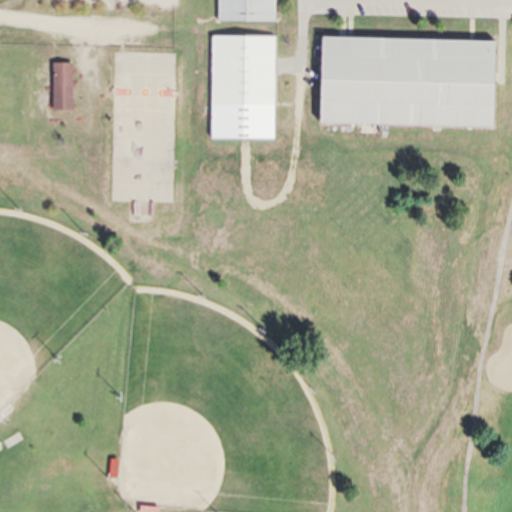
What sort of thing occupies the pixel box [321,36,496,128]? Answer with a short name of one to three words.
barn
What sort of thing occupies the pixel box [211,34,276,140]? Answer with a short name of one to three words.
barn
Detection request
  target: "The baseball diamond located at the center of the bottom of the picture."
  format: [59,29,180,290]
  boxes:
[116,286,336,512]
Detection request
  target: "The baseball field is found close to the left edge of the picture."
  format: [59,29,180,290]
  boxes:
[0,208,134,414]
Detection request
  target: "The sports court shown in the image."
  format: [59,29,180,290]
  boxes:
[112,52,176,222]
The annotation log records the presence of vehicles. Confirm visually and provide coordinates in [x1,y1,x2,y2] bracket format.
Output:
[404,2,412,14]
[357,2,365,14]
